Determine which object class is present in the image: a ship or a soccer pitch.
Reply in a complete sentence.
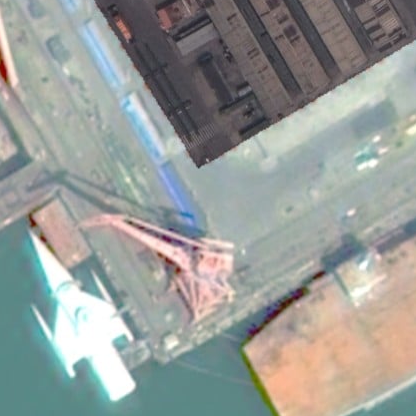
There is a ship in the scene.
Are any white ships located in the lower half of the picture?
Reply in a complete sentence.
Yes, a white ship is visible in the lower half of the picture.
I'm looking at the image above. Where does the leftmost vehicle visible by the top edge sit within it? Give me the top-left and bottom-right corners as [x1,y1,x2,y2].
[110,9,133,40]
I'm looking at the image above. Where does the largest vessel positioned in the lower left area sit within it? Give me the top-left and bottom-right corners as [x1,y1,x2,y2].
[30,229,136,402]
